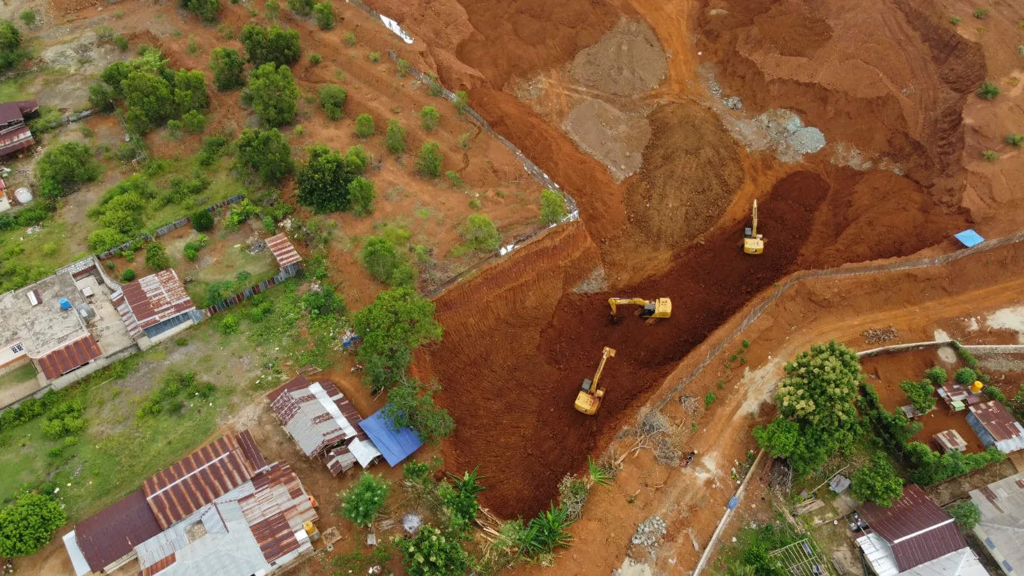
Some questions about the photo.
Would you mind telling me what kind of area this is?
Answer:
residential area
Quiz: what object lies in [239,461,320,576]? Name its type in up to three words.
house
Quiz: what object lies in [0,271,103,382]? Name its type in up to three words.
house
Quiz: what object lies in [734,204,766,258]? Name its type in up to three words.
work vehicle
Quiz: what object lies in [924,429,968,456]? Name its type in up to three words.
shed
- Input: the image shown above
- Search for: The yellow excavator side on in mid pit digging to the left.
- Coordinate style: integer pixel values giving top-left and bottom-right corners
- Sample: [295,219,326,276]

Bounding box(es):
[606,297,672,326]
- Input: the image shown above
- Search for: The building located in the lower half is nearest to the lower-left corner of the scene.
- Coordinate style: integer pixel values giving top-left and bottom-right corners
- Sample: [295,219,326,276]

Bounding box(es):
[62,488,163,576]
